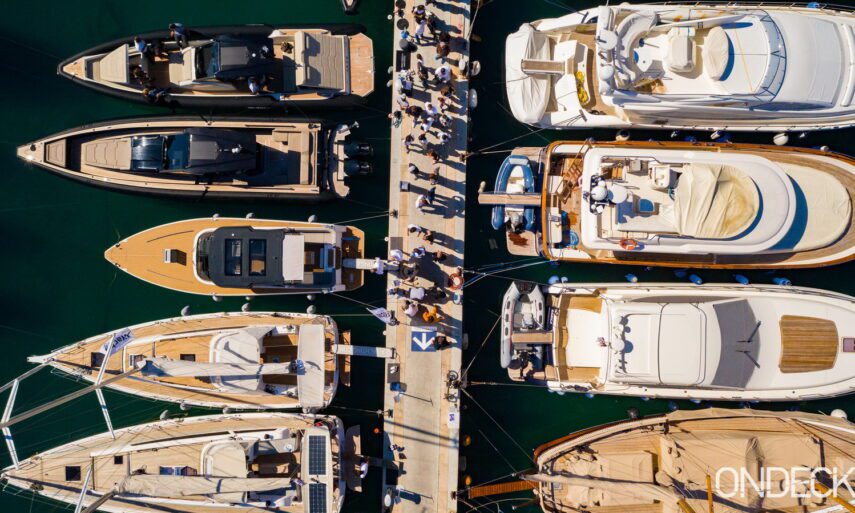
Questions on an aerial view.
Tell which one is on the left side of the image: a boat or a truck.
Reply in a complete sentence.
The feature located on the left side of the image is a boat.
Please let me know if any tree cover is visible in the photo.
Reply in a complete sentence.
No, tree cover can't be seen anywhere here.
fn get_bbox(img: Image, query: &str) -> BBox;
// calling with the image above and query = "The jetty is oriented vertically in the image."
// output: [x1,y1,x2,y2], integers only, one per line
[383,0,471,513]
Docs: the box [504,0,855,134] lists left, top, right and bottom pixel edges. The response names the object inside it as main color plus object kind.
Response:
white boat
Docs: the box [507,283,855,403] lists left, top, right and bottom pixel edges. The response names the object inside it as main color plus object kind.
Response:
white boat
